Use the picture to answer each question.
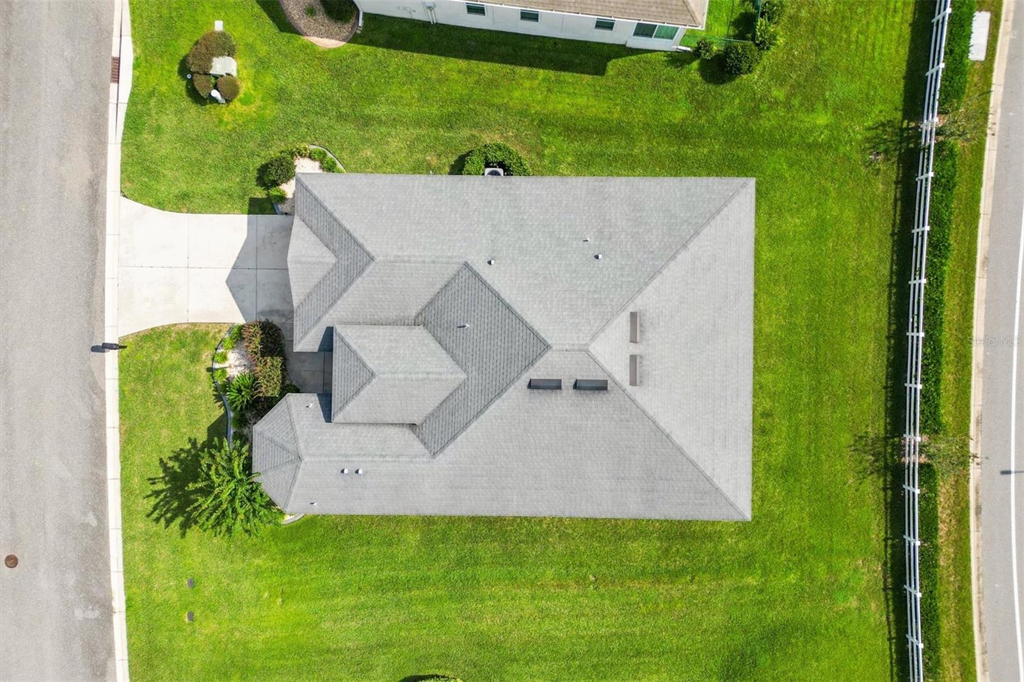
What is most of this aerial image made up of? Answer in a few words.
grass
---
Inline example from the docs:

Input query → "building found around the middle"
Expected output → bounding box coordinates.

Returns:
[252,172,756,520]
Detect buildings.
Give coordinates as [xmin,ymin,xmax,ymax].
[354,0,710,57]
[252,172,756,520]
